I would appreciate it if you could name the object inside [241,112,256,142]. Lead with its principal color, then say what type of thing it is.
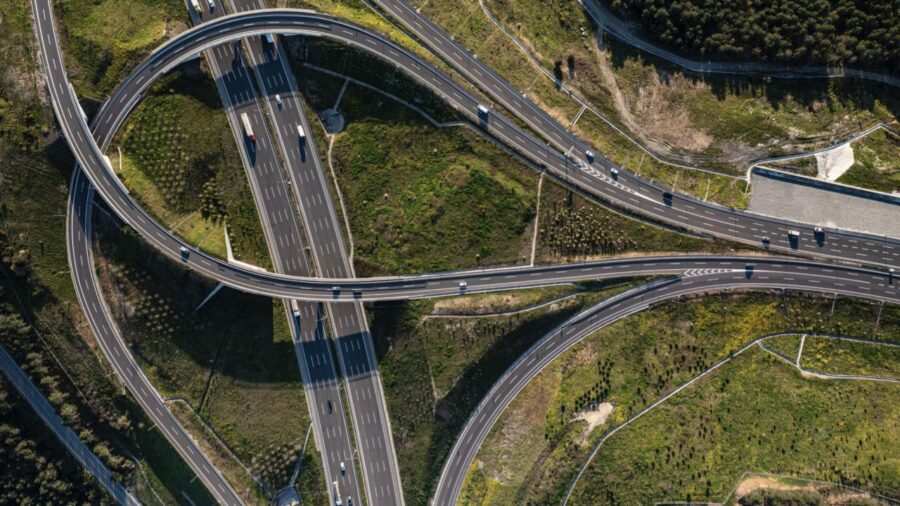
white vehicle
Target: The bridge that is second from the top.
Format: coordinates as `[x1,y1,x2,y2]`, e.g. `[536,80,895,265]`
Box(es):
[48,82,136,209]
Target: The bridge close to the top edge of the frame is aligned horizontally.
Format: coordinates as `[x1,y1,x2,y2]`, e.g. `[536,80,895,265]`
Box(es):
[142,5,339,71]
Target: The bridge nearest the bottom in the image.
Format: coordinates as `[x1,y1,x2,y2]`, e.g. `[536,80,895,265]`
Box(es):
[237,264,427,304]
